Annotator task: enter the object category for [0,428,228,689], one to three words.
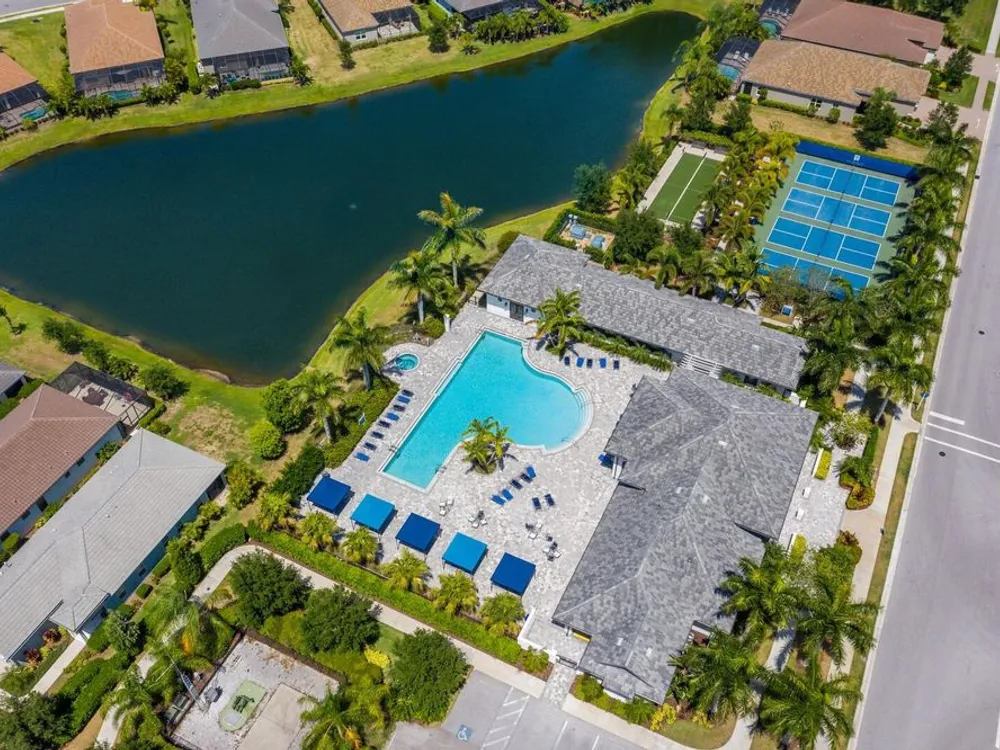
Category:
house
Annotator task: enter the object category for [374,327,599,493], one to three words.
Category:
swimming pool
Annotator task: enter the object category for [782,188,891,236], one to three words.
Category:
sports court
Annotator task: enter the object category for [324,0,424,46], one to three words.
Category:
house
